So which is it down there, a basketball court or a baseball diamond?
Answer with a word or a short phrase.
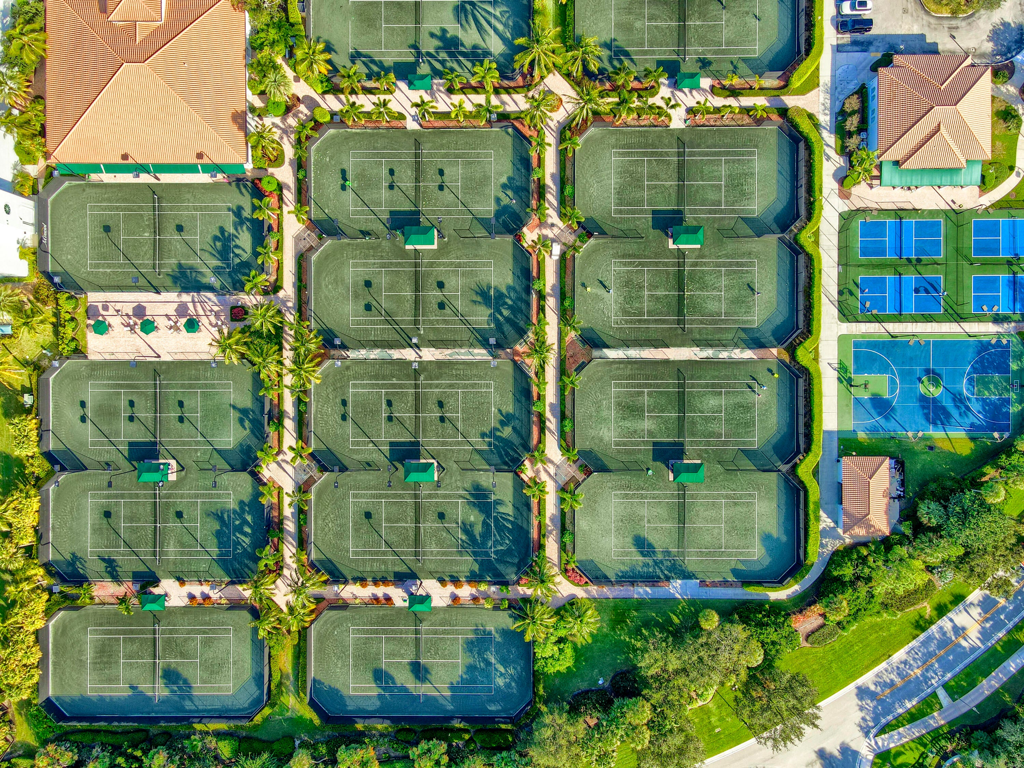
basketball court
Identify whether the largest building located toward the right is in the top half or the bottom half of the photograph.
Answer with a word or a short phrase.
top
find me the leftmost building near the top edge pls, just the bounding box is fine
[45,0,251,178]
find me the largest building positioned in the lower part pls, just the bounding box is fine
[838,456,890,536]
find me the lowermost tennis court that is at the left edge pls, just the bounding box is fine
[50,606,264,716]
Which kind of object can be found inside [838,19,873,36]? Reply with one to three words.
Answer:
car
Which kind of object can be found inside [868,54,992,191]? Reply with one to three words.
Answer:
building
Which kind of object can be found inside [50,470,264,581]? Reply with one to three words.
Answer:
tennis court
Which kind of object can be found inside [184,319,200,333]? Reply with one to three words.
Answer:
umbrella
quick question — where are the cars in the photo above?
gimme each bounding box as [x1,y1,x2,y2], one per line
[840,0,871,15]
[838,19,873,36]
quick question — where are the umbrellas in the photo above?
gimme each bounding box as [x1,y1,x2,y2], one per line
[93,319,109,335]
[141,319,156,335]
[184,319,200,333]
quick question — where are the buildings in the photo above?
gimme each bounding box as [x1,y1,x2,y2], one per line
[868,54,992,191]
[838,456,890,536]
[45,0,251,178]
[0,187,37,292]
